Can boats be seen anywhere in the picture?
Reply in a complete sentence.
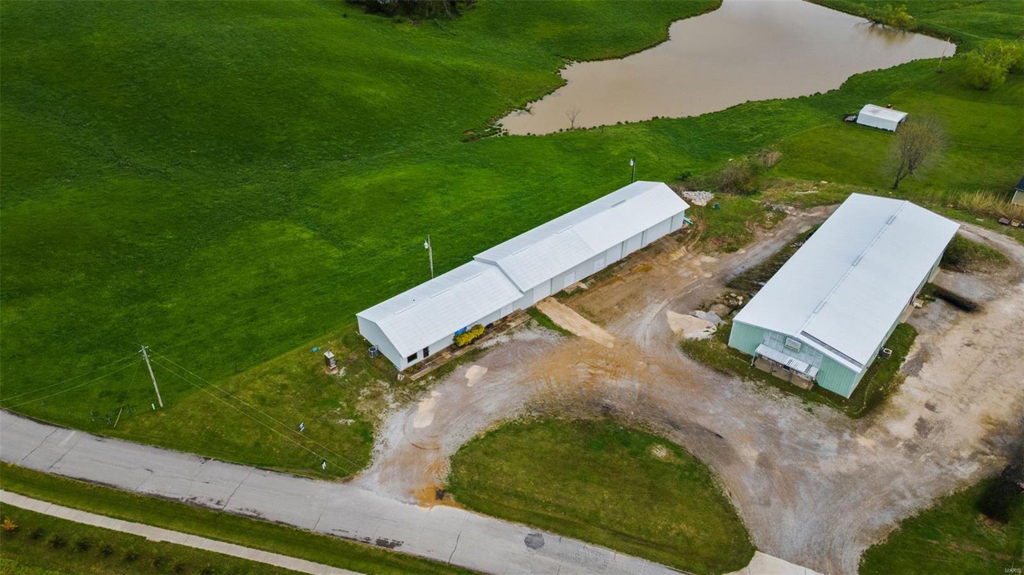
No, I can see no boat in this picture.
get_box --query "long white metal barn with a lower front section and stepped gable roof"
[356,180,690,369]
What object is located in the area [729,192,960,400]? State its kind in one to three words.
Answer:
building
